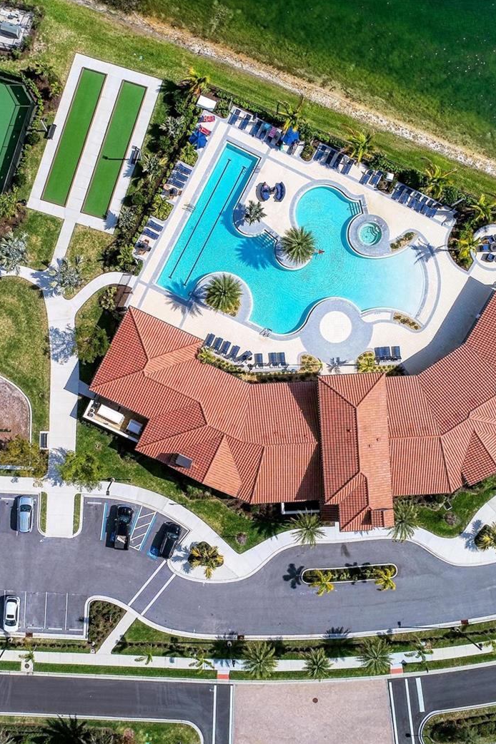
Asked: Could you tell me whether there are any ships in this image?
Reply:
No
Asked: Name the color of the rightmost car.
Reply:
black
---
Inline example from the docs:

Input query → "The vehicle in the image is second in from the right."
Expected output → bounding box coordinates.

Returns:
[113,504,132,551]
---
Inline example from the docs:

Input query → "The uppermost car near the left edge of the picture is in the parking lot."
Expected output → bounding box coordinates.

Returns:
[16,495,34,533]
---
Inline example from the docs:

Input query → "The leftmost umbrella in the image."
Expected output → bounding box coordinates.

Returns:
[189,132,208,151]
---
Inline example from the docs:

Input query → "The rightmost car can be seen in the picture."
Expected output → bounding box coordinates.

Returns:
[156,522,182,560]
